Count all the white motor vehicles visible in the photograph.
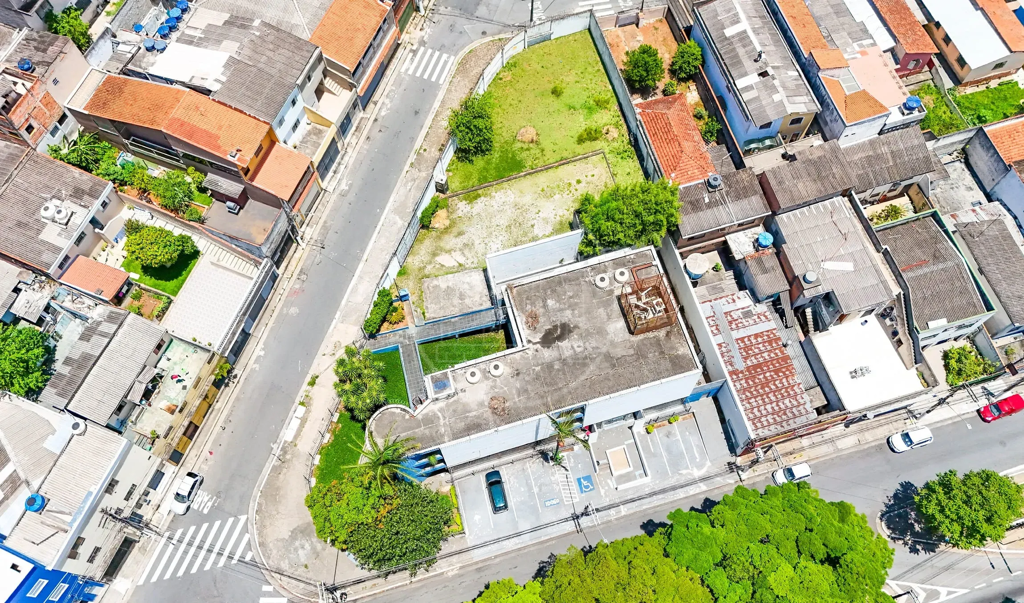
3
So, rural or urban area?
urban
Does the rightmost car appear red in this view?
Yes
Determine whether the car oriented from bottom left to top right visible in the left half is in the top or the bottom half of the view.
bottom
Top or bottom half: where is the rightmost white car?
bottom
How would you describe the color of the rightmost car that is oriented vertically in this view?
blue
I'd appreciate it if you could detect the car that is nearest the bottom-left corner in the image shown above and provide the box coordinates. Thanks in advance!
[169,469,205,515]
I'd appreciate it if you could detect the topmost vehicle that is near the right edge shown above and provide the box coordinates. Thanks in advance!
[981,394,1024,422]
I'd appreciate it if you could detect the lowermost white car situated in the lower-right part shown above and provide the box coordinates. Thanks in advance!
[770,460,814,487]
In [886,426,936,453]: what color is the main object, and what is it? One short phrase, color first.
white car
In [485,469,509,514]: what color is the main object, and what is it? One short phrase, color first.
blue car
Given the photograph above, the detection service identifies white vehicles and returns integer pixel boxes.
[886,426,936,453]
[770,460,814,487]
[169,469,205,515]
